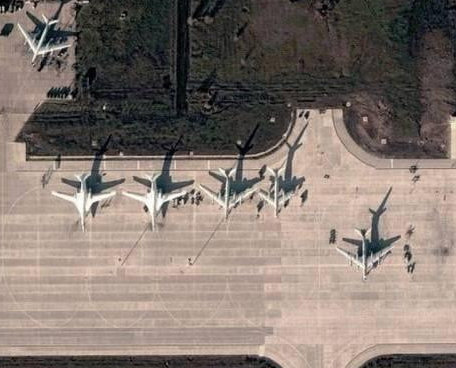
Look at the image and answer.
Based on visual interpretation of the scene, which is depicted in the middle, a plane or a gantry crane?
plane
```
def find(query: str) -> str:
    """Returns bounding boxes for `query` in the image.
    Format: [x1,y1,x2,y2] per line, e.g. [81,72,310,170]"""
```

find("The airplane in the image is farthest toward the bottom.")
[335,227,392,281]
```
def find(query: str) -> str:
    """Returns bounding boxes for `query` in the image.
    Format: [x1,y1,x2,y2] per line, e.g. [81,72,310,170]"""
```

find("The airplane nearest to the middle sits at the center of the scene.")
[198,165,256,220]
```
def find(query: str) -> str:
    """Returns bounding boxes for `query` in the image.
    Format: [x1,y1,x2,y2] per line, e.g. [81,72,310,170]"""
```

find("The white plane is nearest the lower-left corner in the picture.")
[51,172,114,233]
